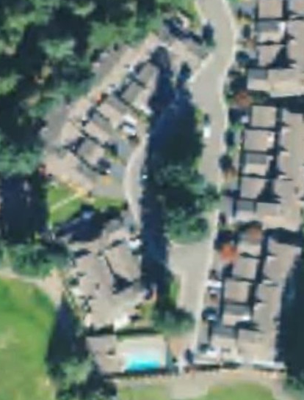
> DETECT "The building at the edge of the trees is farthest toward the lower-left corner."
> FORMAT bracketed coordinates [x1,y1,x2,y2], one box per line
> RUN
[87,335,123,374]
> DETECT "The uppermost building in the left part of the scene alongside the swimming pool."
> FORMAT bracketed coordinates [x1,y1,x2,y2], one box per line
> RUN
[68,225,147,330]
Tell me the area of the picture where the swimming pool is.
bottom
